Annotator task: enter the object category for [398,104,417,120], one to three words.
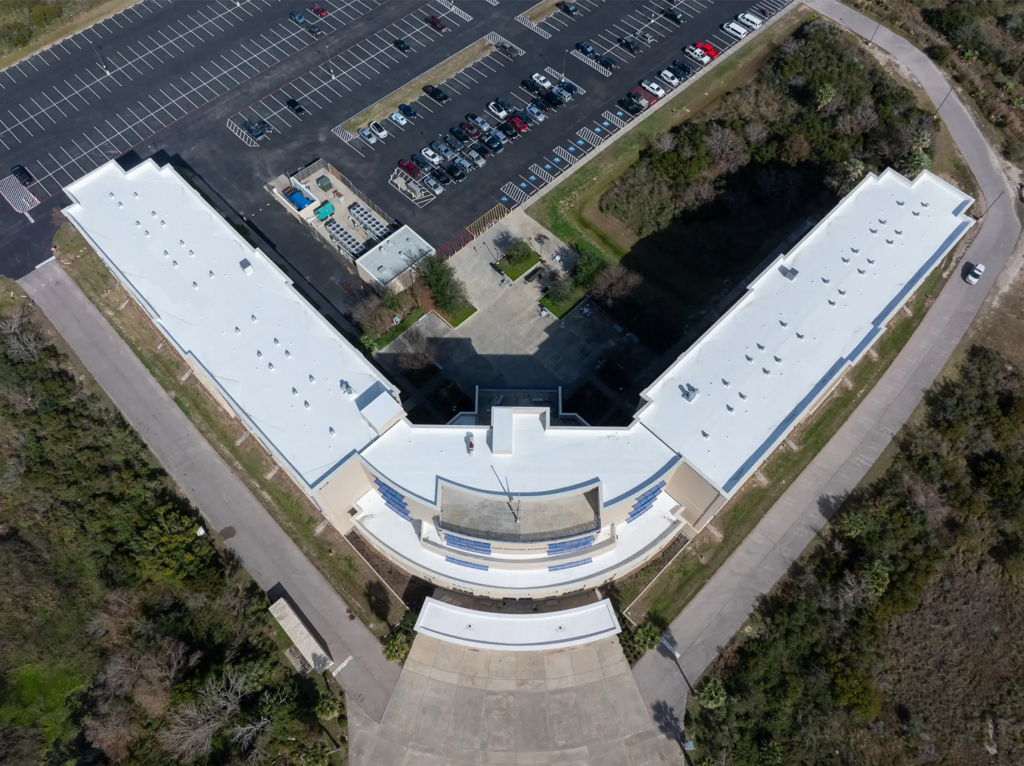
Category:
car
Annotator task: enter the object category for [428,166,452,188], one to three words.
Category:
truck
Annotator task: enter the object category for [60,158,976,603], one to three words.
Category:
building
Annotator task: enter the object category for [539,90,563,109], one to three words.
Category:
vehicle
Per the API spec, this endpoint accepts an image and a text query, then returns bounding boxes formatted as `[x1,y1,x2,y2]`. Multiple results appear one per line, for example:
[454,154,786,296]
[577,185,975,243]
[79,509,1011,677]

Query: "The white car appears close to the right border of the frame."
[966,262,986,285]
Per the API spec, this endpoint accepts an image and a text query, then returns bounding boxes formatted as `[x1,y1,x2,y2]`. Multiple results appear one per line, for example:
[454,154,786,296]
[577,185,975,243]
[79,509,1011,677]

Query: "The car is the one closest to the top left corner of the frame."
[12,167,32,185]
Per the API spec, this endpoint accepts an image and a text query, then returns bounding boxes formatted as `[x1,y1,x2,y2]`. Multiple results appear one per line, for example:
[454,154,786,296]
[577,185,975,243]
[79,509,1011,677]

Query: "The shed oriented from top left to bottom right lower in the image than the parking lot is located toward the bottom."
[269,597,331,670]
